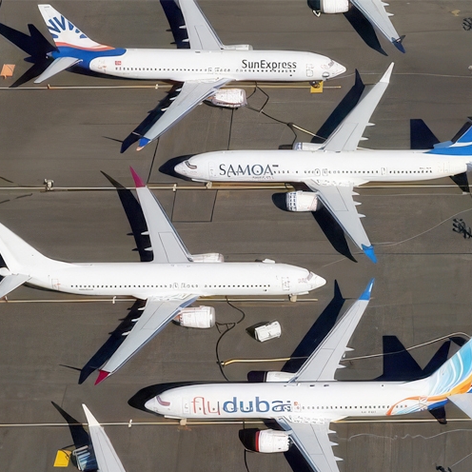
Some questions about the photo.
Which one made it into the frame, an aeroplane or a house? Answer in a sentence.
Visible in the photo is an aeroplane.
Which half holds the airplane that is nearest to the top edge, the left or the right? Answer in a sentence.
You can find the airplane that is nearest to the top edge on the right side of the picture.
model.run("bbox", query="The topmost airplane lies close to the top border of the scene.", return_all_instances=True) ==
[319,0,406,54]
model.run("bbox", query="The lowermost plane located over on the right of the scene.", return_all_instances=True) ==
[142,277,472,472]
